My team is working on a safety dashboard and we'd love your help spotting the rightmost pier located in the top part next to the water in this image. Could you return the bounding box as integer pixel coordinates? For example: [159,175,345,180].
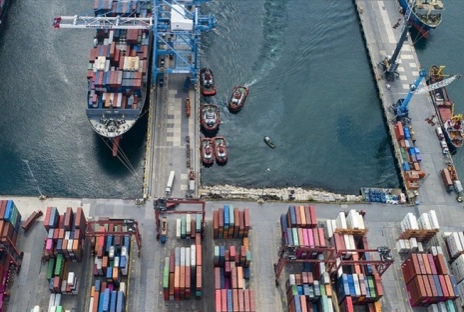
[353,0,464,208]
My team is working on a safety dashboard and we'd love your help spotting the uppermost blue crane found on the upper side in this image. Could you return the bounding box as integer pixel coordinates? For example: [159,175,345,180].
[153,0,196,36]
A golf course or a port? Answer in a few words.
port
